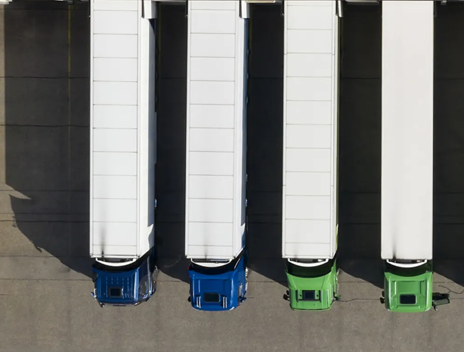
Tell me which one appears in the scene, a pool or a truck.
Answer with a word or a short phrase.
truck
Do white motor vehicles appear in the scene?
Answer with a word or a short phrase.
Yes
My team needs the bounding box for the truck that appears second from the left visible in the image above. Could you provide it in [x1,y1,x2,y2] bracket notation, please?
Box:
[183,0,252,312]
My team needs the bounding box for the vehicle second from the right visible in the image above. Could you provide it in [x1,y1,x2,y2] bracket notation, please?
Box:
[280,0,343,312]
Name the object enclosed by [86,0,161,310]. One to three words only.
truck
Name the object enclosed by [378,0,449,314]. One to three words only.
truck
